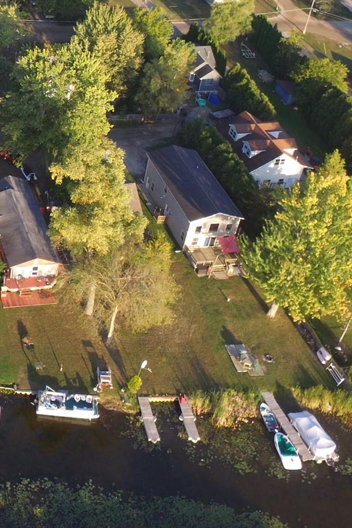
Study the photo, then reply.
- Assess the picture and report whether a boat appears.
Yes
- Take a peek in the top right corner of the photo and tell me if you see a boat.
No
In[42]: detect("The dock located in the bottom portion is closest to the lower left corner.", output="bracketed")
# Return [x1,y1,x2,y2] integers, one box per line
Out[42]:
[137,397,161,445]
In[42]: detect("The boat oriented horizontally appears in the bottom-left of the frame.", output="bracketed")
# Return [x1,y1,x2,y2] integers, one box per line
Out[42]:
[36,390,99,416]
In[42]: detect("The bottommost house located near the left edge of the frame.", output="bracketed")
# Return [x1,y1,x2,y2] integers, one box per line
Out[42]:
[0,175,69,311]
